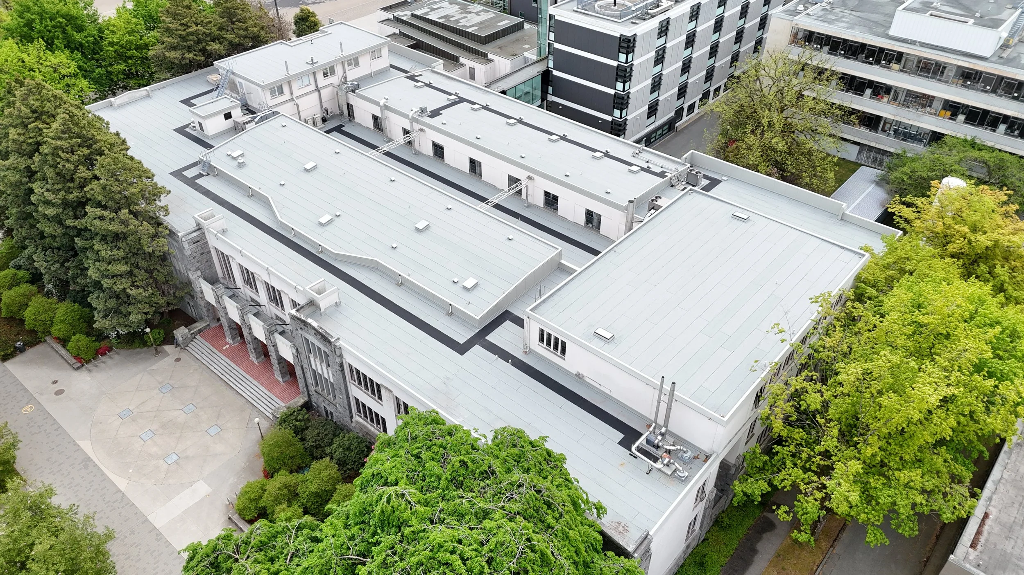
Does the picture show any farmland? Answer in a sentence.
No, farmland can't be seen anywhere here.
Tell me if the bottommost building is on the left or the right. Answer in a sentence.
It is on the right.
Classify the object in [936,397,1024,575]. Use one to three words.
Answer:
building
